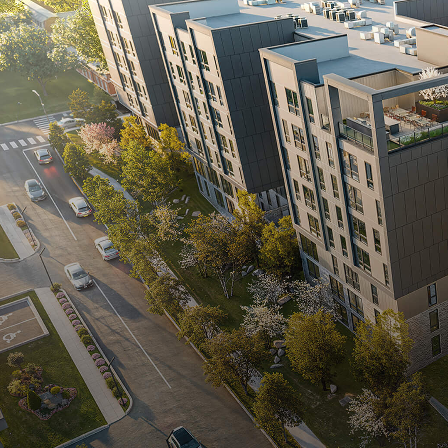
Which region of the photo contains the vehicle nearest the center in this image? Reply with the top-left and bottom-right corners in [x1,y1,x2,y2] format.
[87,239,116,261]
